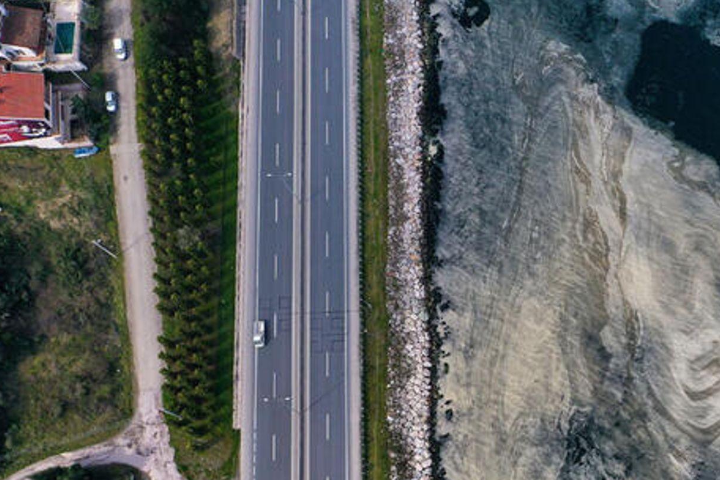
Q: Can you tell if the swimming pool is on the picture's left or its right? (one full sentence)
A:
It is on the left.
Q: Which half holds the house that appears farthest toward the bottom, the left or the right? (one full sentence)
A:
The house that appears farthest toward the bottom sits on the left side.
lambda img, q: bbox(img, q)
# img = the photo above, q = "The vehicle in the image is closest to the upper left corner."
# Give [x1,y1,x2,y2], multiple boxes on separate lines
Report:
[114,37,127,58]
